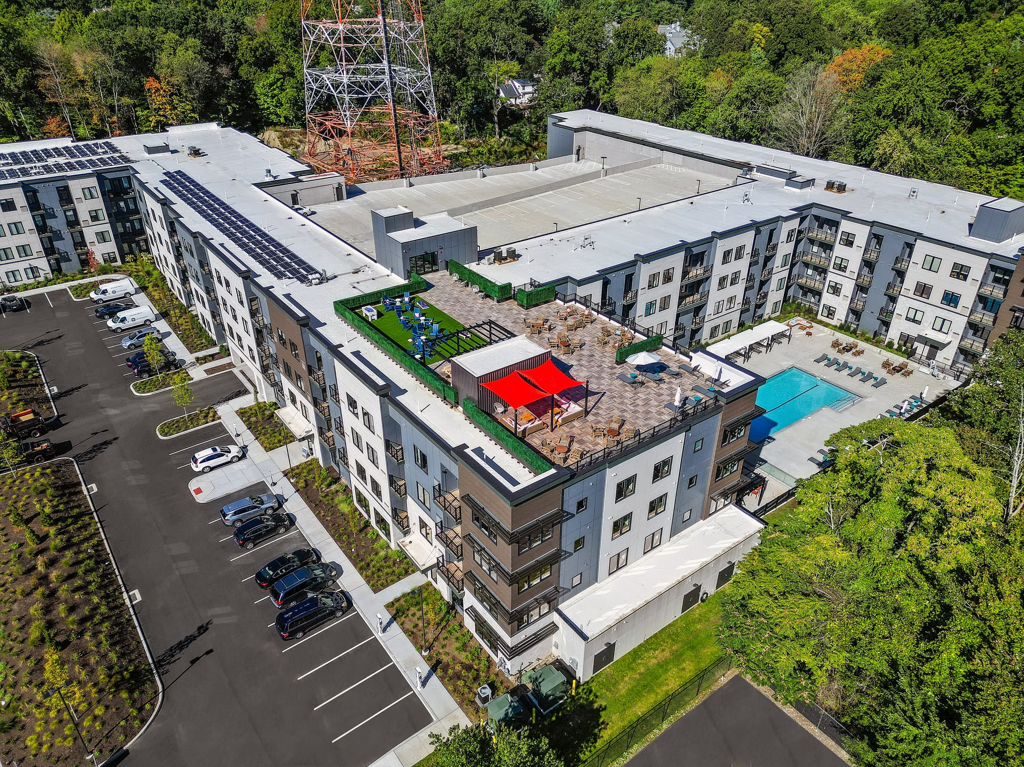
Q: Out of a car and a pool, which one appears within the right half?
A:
pool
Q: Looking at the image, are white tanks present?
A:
No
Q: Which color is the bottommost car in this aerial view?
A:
black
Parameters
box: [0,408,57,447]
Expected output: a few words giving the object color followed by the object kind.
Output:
black truck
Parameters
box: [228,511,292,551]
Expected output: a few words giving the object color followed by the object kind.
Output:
black car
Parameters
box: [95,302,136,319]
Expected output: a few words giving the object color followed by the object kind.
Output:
black car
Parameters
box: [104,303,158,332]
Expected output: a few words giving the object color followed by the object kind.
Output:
white van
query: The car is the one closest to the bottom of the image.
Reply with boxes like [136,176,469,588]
[273,589,351,643]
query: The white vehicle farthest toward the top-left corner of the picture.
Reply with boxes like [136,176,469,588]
[87,277,138,304]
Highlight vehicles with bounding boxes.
[95,302,136,319]
[118,324,162,349]
[87,277,138,304]
[0,432,53,473]
[0,294,21,312]
[250,545,319,589]
[104,303,158,332]
[266,560,341,609]
[216,492,279,530]
[228,511,292,551]
[131,355,179,377]
[273,589,351,643]
[0,408,57,447]
[186,443,244,474]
